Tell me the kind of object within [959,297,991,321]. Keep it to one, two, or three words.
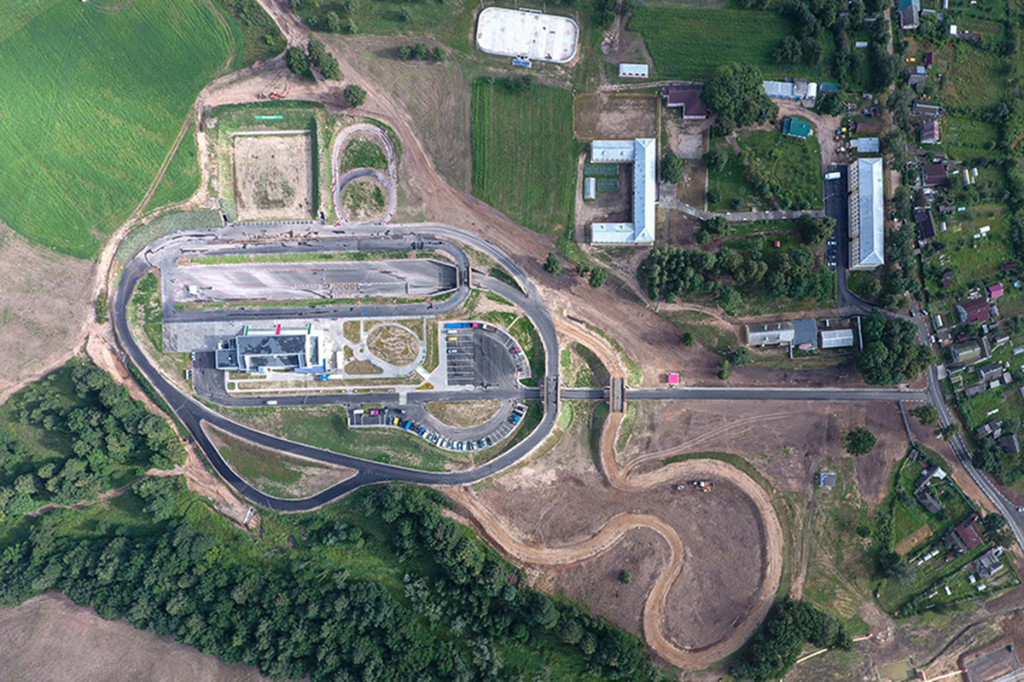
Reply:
house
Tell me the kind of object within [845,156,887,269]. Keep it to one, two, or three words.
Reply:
building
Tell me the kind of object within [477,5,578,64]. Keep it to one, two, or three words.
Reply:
sports court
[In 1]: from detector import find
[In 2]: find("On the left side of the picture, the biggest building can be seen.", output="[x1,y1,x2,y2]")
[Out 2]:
[215,325,328,373]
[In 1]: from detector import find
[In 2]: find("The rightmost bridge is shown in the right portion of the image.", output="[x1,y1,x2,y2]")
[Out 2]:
[607,377,627,414]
